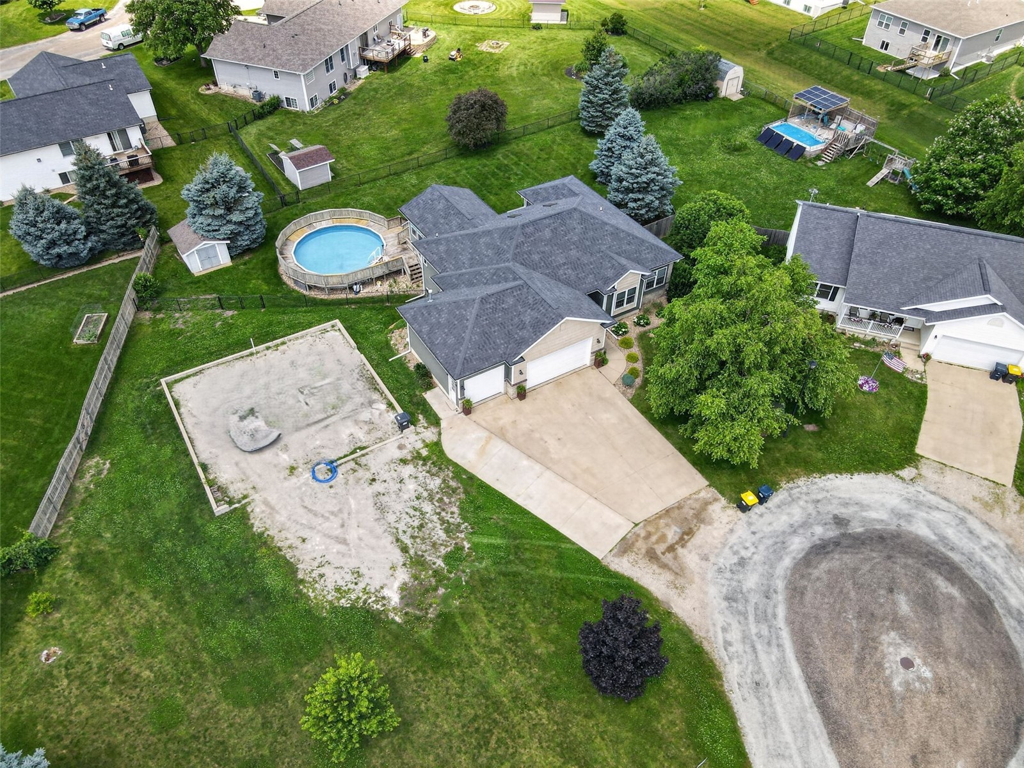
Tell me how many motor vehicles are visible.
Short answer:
2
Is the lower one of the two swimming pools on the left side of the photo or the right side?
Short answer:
left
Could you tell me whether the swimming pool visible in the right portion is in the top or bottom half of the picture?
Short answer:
top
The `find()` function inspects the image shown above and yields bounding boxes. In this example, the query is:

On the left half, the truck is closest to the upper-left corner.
[61,5,110,31]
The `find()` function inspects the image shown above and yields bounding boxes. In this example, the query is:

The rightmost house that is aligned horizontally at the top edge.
[852,0,1024,76]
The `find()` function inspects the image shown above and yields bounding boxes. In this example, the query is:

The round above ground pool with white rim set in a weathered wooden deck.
[290,224,389,291]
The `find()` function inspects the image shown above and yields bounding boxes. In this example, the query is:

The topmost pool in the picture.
[767,122,829,160]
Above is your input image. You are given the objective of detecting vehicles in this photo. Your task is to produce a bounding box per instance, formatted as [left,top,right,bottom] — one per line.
[61,5,110,31]
[97,19,149,50]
